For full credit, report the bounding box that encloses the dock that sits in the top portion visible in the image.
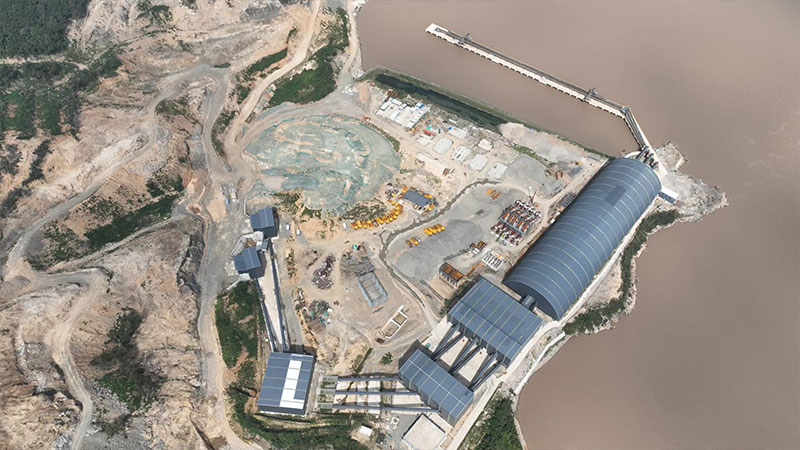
[426,23,667,174]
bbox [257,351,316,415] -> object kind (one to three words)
building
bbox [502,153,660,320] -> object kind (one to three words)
shed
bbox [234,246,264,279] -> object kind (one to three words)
house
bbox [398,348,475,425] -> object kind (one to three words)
building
